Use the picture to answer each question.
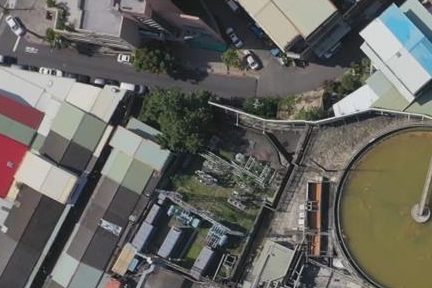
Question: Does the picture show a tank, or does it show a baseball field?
tank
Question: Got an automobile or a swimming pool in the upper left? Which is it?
automobile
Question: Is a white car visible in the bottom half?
No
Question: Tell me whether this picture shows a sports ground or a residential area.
residential area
